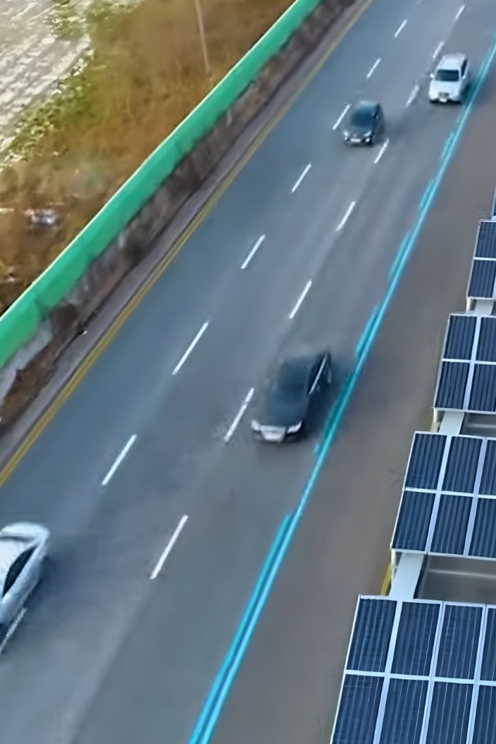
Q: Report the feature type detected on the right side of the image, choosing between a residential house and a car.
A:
car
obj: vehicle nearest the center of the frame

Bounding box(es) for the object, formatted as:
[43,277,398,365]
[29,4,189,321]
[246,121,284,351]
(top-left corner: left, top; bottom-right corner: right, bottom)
[254,352,330,442]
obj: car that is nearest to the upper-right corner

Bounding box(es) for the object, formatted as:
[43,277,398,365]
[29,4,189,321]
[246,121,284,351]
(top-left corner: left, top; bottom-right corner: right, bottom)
[430,54,471,100]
